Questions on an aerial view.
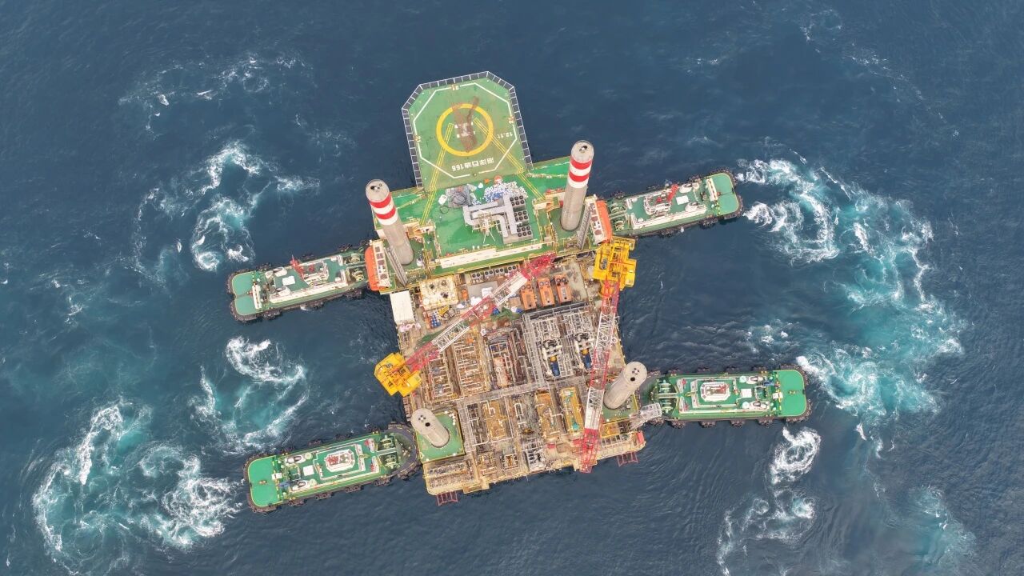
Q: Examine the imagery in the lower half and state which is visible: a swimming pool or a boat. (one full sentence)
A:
It is a boat that can be seen in the lower half.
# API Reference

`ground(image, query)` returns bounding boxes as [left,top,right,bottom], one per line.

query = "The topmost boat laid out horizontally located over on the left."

[230,245,379,321]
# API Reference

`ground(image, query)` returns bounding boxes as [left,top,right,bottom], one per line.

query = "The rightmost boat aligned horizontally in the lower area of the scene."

[636,363,811,427]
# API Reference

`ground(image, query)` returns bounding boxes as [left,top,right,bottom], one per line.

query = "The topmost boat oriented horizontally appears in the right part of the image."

[597,172,743,243]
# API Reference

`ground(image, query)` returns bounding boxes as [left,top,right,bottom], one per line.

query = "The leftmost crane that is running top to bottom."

[579,246,633,475]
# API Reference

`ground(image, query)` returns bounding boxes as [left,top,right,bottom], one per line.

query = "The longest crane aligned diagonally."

[377,250,561,402]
